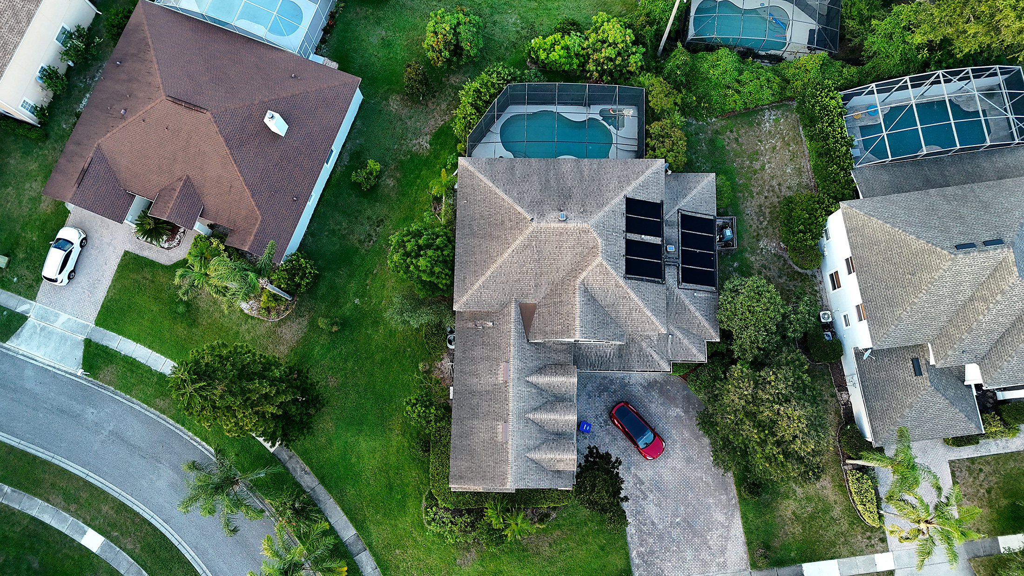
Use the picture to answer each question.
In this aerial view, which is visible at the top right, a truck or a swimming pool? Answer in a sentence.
Looking at the top right, you will find a swimming pool.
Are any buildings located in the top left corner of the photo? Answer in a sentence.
Yes, the scene does show a building in the top left corner of the photo.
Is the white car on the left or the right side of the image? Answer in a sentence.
It is on the left.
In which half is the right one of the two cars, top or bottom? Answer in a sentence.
The right one of the two cars sits in the bottom half of the picture.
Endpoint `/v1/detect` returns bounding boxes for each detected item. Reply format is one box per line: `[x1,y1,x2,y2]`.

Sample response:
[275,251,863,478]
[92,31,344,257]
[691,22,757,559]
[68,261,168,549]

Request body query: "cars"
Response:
[38,226,87,288]
[606,396,666,465]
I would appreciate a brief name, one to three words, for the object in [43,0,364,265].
house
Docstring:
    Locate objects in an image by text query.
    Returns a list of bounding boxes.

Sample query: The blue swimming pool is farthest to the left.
[173,0,348,63]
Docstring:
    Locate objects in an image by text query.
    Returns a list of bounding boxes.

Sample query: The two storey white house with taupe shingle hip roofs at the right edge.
[819,145,1024,448]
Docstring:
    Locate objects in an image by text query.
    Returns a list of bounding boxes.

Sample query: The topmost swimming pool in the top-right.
[689,0,844,58]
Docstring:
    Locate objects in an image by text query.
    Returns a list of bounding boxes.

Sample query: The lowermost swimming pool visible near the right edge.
[847,80,1024,173]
